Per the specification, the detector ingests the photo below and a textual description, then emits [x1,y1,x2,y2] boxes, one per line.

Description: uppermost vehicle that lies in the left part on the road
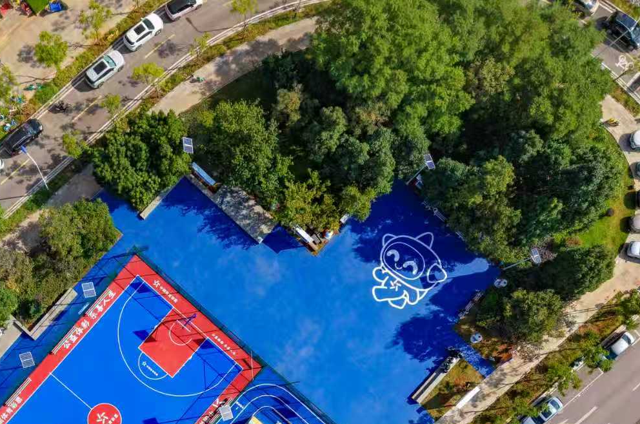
[162,0,203,27]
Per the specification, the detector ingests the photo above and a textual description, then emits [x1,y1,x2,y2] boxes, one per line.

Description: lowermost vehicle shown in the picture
[518,394,563,424]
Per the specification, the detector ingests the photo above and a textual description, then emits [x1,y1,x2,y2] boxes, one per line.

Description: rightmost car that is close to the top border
[603,9,640,52]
